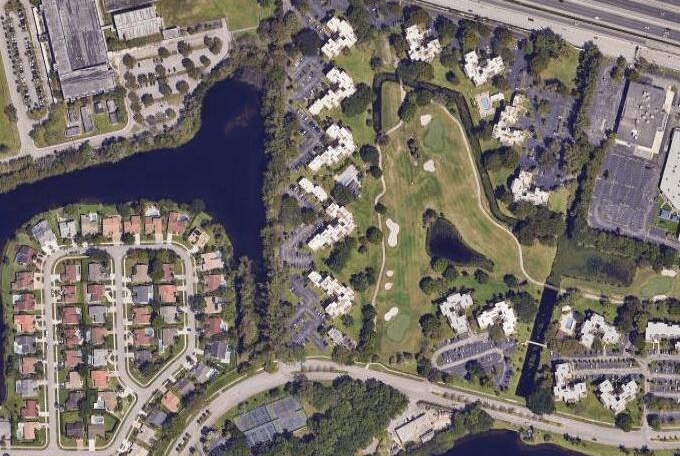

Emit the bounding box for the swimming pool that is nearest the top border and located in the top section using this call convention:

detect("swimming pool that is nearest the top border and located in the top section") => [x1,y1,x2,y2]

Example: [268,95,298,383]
[476,91,494,117]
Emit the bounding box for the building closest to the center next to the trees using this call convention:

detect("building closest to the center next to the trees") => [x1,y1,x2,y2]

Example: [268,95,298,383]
[307,202,356,252]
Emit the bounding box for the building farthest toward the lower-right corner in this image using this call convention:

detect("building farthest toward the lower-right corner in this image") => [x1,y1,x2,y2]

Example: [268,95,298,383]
[600,380,639,414]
